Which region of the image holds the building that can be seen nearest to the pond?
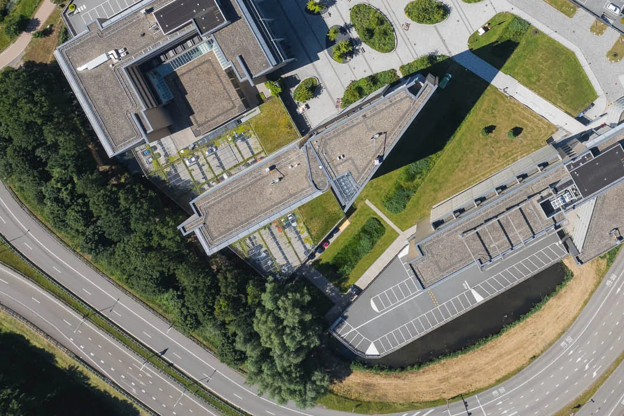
right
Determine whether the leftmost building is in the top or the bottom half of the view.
top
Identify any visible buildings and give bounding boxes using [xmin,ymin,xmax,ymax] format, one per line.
[179,74,438,256]
[55,0,294,157]
[409,118,624,288]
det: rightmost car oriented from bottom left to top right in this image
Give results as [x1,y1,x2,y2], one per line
[438,74,451,89]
